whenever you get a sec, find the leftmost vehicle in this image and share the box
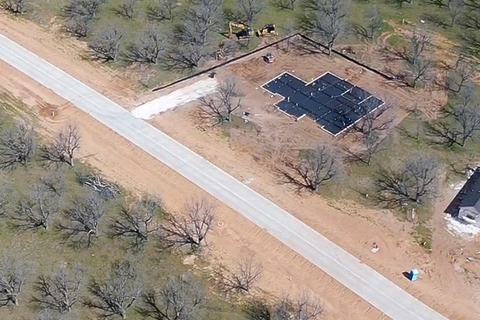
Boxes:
[223,21,255,39]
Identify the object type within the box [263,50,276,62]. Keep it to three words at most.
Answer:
vehicle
